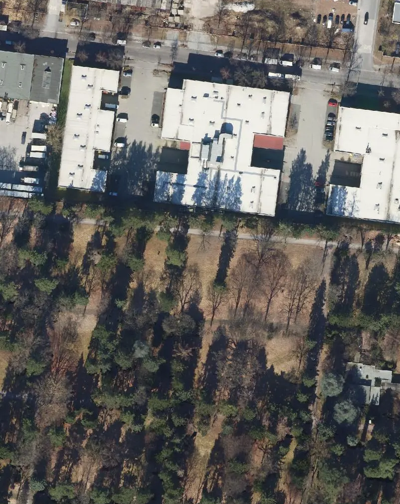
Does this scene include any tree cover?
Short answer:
Yes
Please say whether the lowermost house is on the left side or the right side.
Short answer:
right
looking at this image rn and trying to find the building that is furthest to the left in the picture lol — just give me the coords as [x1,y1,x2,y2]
[0,50,65,104]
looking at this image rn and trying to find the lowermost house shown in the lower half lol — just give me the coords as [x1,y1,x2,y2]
[345,364,400,405]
